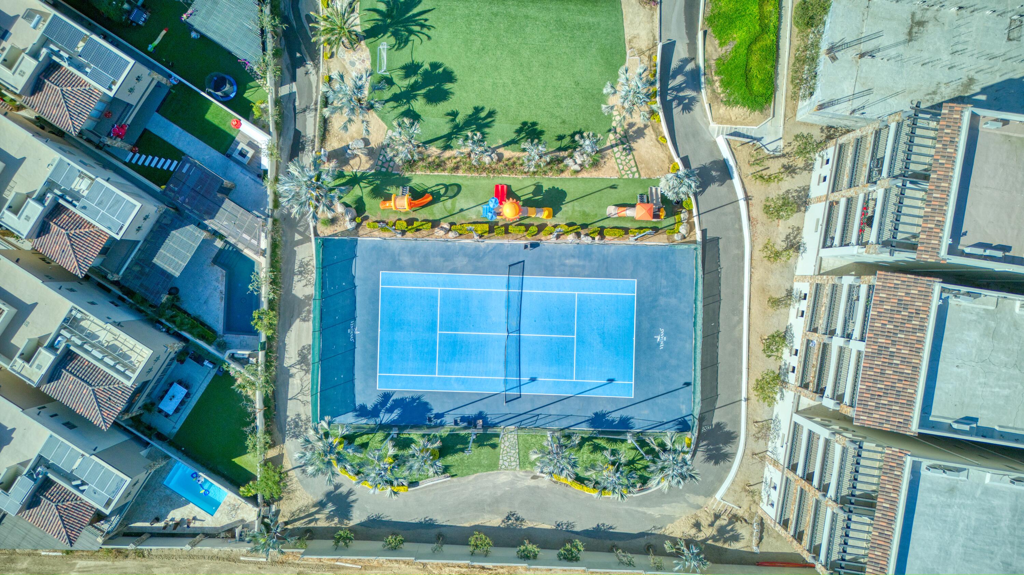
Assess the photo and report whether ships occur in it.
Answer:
No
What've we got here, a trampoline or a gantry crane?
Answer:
trampoline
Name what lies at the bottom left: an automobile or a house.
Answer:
house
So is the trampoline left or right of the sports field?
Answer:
to the left of it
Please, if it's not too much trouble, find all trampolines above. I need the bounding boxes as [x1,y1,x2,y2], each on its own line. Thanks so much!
[200,67,237,102]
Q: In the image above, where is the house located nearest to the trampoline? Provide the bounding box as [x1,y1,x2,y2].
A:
[0,0,188,159]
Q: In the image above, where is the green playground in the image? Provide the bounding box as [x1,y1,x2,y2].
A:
[323,170,683,229]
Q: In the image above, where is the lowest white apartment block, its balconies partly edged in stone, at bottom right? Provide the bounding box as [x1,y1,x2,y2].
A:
[761,408,1024,575]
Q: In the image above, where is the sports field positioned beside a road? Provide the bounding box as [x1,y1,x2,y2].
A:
[359,0,626,152]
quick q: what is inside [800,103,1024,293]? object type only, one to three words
building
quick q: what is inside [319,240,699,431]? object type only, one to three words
tennis court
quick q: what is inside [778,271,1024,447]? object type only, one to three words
building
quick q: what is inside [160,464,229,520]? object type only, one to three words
swimming pool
